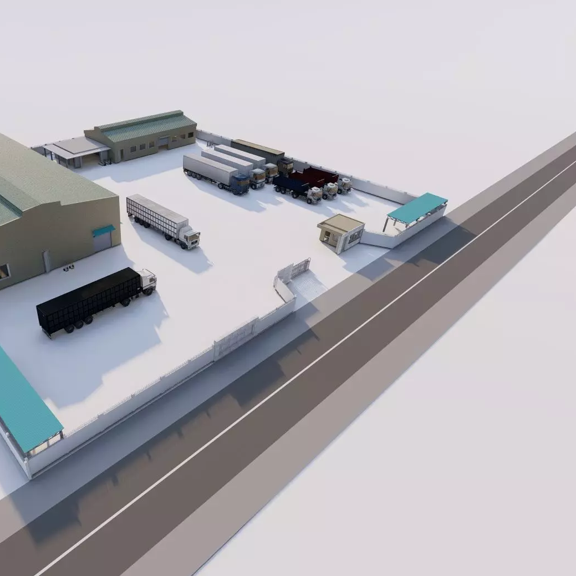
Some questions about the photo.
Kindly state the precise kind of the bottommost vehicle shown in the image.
truck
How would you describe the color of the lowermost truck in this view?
black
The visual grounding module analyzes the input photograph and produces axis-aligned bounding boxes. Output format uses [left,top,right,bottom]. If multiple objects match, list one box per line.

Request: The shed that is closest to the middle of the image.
[314,214,365,255]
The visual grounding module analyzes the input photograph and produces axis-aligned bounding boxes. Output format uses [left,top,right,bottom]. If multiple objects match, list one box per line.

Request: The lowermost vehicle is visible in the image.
[36,267,158,339]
